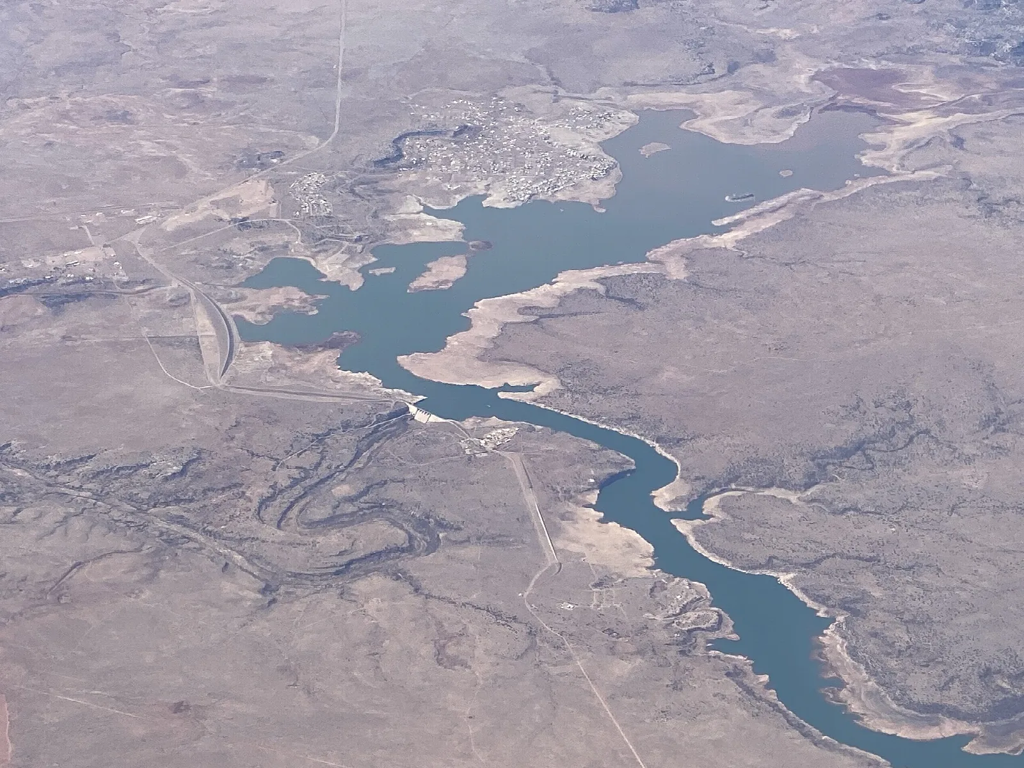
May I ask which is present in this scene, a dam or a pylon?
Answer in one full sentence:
There is a dam in the scene.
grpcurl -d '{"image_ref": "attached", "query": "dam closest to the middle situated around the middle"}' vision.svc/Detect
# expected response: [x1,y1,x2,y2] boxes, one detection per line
[403,400,452,425]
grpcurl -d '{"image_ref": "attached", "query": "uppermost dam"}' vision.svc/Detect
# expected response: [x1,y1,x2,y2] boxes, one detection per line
[174,279,236,378]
